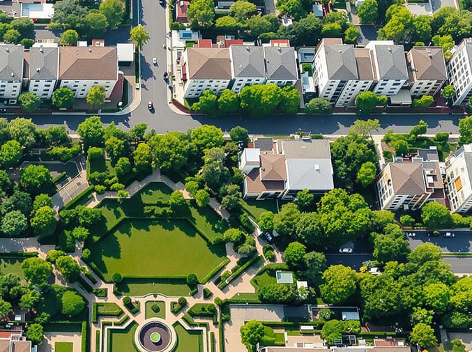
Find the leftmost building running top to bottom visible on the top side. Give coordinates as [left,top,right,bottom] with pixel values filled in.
[0,40,33,107]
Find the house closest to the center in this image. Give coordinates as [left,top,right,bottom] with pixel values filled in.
[241,137,334,202]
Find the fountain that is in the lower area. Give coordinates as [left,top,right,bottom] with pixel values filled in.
[134,317,177,352]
